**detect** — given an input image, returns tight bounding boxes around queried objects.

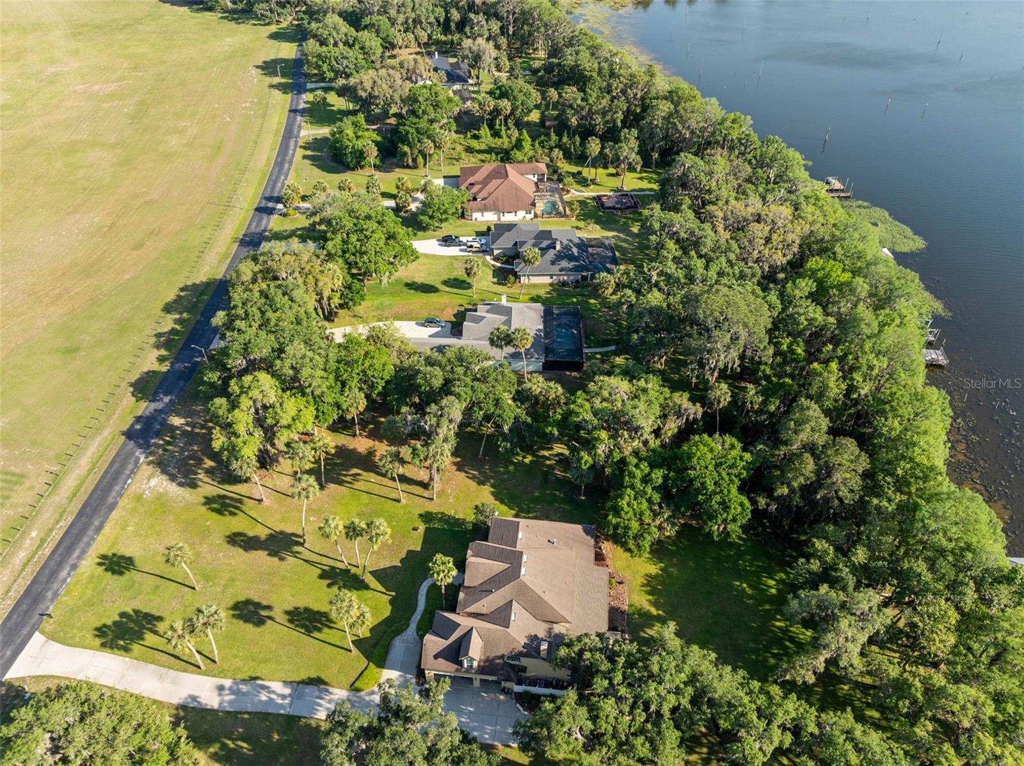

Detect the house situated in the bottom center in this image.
[422,516,609,690]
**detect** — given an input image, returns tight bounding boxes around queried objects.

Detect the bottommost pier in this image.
[922,319,949,368]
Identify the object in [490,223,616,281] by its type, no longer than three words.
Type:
house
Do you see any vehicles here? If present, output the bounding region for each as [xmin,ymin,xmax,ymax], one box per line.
[466,243,487,251]
[442,234,459,242]
[446,239,464,246]
[466,236,483,244]
[424,316,446,327]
